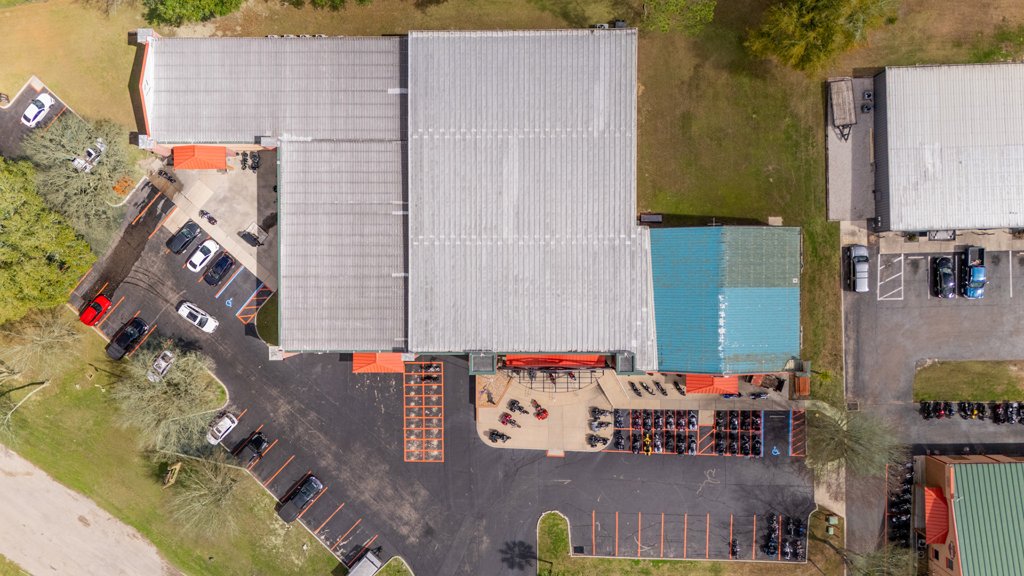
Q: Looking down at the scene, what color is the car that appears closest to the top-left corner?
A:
white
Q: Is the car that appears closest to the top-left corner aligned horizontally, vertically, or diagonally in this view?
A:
diagonally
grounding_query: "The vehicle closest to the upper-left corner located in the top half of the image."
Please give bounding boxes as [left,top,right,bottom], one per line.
[19,91,57,129]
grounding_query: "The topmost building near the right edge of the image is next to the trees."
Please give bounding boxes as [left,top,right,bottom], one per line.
[870,62,1024,233]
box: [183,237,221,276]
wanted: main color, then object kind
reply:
white car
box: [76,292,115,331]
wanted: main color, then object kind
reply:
red car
